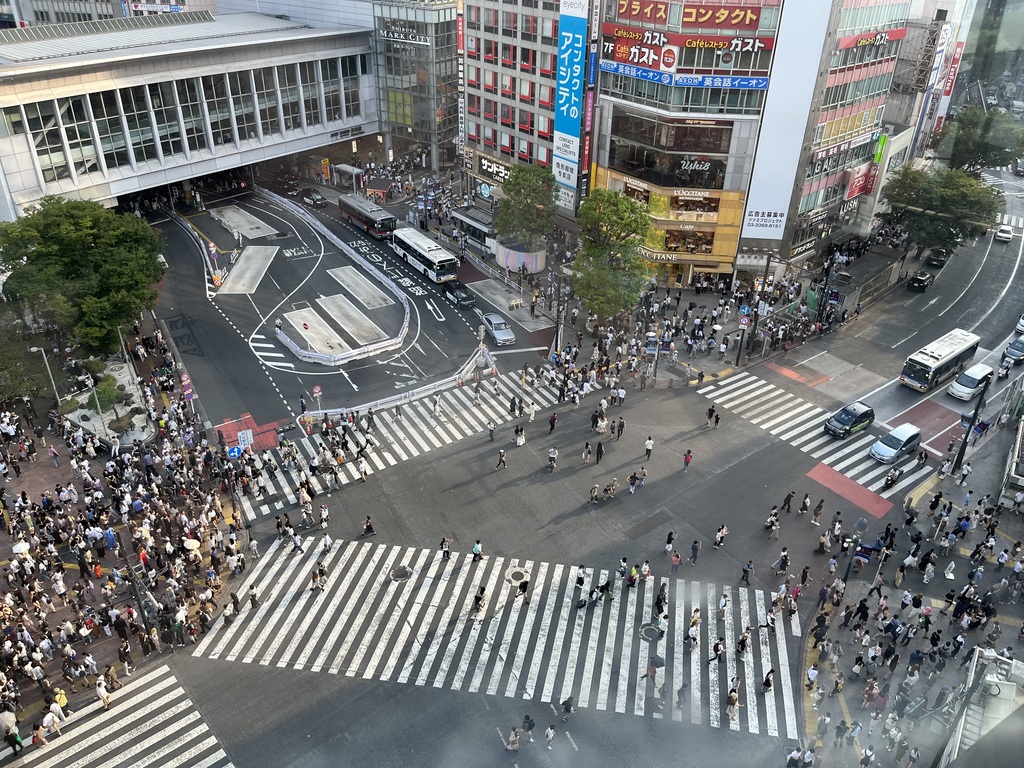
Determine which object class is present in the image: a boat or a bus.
bus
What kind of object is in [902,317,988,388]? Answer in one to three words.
bus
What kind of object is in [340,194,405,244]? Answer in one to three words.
bus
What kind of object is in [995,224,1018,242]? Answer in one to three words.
car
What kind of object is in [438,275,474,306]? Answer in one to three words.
car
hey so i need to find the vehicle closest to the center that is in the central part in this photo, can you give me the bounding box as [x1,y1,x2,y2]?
[477,311,518,344]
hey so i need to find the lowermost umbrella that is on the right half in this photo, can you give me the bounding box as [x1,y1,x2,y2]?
[651,650,676,672]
